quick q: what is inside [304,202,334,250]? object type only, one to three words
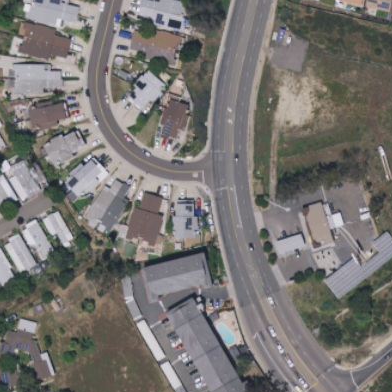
building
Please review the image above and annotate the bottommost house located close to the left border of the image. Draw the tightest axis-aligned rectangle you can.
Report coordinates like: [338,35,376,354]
[0,319,54,388]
